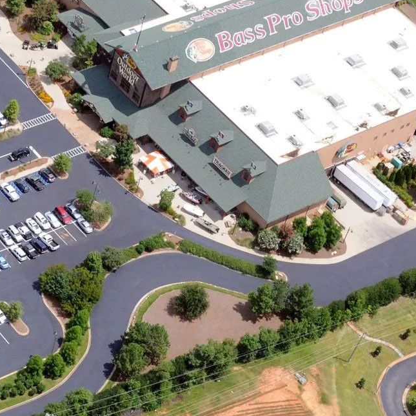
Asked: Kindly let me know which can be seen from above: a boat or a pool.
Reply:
boat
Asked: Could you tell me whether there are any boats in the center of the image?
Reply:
Yes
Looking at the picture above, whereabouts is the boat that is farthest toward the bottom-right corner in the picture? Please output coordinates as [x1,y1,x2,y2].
[195,218,221,233]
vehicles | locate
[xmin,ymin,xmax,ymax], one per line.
[0,254,9,270]
[1,181,21,202]
[41,167,58,184]
[13,176,30,195]
[6,223,24,242]
[24,171,45,192]
[34,211,51,230]
[55,205,72,225]
[10,148,30,160]
[0,228,15,246]
[14,220,35,240]
[20,240,41,260]
[24,217,42,235]
[0,110,8,127]
[0,311,8,326]
[77,217,94,234]
[44,211,61,228]
[64,203,82,220]
[31,42,38,50]
[22,40,30,49]
[9,242,27,262]
[40,232,61,252]
[30,234,49,253]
